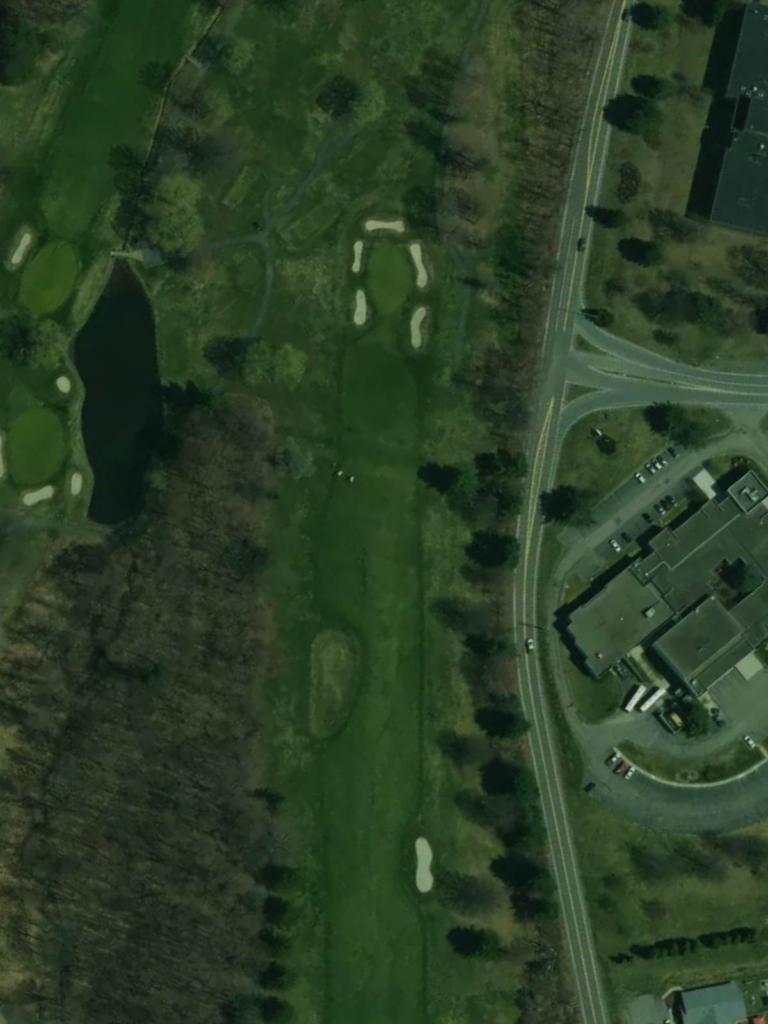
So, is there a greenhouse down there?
No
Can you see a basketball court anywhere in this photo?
No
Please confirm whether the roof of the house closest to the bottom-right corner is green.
Yes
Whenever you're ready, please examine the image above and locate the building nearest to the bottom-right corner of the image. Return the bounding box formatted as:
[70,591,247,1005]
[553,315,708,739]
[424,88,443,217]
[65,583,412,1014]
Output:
[666,981,748,1024]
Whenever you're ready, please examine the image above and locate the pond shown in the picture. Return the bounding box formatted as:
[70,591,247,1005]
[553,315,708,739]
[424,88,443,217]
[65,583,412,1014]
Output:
[74,259,165,522]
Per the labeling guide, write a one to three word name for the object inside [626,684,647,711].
bus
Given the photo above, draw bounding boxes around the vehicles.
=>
[745,735,755,747]
[660,499,670,510]
[584,781,596,792]
[610,540,621,551]
[643,512,653,523]
[635,471,646,485]
[655,503,665,514]
[668,447,679,459]
[607,752,619,765]
[626,684,647,711]
[665,495,675,506]
[528,638,533,651]
[622,9,629,21]
[622,532,632,543]
[578,238,584,250]
[625,767,635,779]
[641,687,666,710]
[657,454,667,466]
[651,459,662,470]
[645,463,656,474]
[616,760,627,773]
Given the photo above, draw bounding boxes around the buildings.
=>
[565,471,768,696]
[706,3,768,236]
[666,981,748,1024]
